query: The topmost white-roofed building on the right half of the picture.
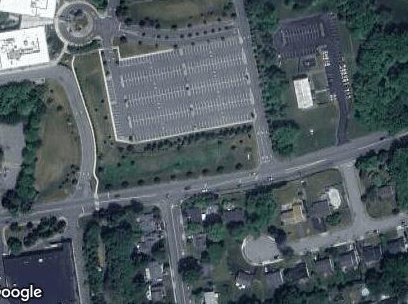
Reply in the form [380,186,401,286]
[294,78,313,109]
